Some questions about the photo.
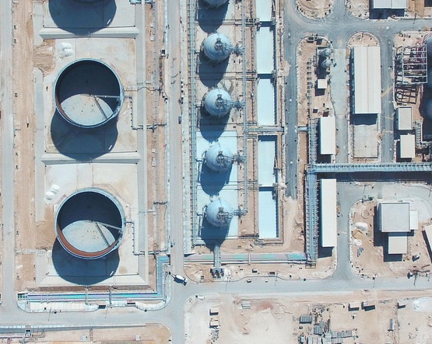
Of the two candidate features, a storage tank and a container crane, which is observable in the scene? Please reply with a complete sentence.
I can see a storage tank in this picture.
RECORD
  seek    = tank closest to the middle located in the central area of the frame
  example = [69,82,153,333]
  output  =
[196,142,244,180]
